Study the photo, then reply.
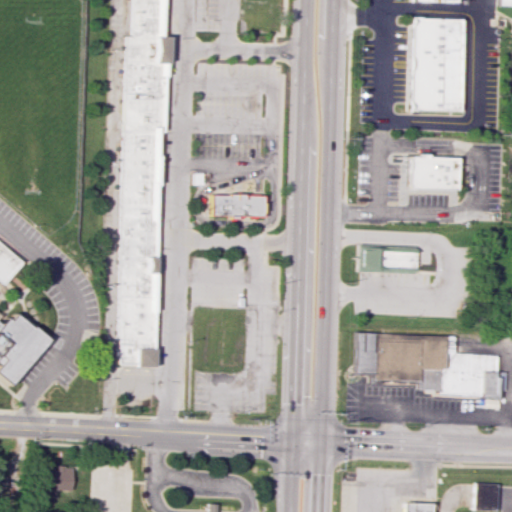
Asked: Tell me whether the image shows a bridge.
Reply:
No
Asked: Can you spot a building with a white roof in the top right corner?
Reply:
Yes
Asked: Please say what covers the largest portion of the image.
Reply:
paved ground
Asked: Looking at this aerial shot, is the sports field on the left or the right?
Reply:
left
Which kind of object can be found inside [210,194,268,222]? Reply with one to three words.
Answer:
building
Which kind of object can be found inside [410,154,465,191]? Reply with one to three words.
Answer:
building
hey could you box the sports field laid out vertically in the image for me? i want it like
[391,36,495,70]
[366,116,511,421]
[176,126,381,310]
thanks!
[0,0,90,266]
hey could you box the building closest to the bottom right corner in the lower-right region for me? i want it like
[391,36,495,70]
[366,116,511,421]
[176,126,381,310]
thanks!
[472,484,502,512]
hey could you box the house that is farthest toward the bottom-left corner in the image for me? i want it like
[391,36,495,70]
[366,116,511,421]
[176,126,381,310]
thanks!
[58,466,76,492]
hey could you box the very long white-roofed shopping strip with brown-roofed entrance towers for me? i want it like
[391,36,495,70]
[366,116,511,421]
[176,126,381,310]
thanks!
[116,0,176,368]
